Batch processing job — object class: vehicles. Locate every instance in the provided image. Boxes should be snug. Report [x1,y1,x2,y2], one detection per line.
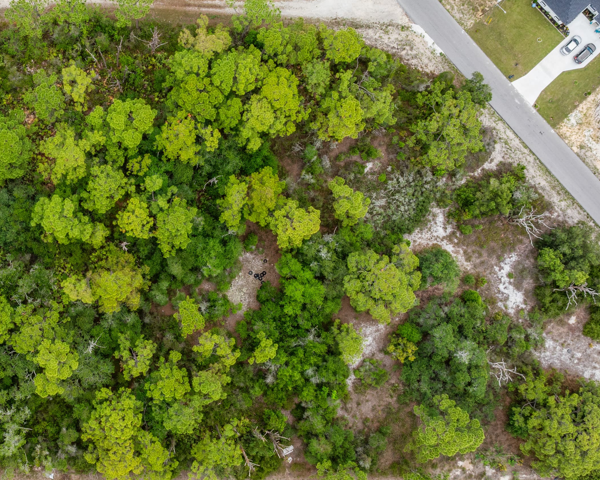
[562,35,583,55]
[575,42,597,64]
